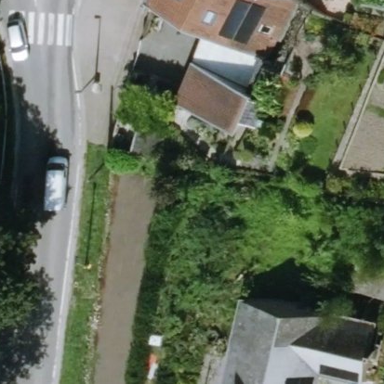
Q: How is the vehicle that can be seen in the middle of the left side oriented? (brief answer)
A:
up and down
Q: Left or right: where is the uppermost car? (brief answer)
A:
left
